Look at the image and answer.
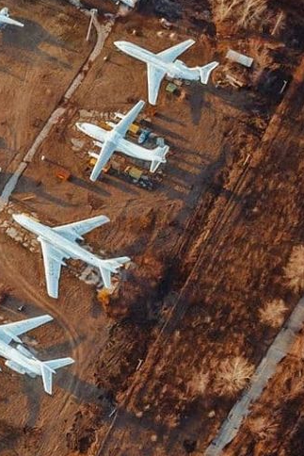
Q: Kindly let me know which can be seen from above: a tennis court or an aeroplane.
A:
aeroplane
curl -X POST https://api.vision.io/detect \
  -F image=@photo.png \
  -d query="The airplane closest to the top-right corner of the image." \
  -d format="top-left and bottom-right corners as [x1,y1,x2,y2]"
[114,42,216,104]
